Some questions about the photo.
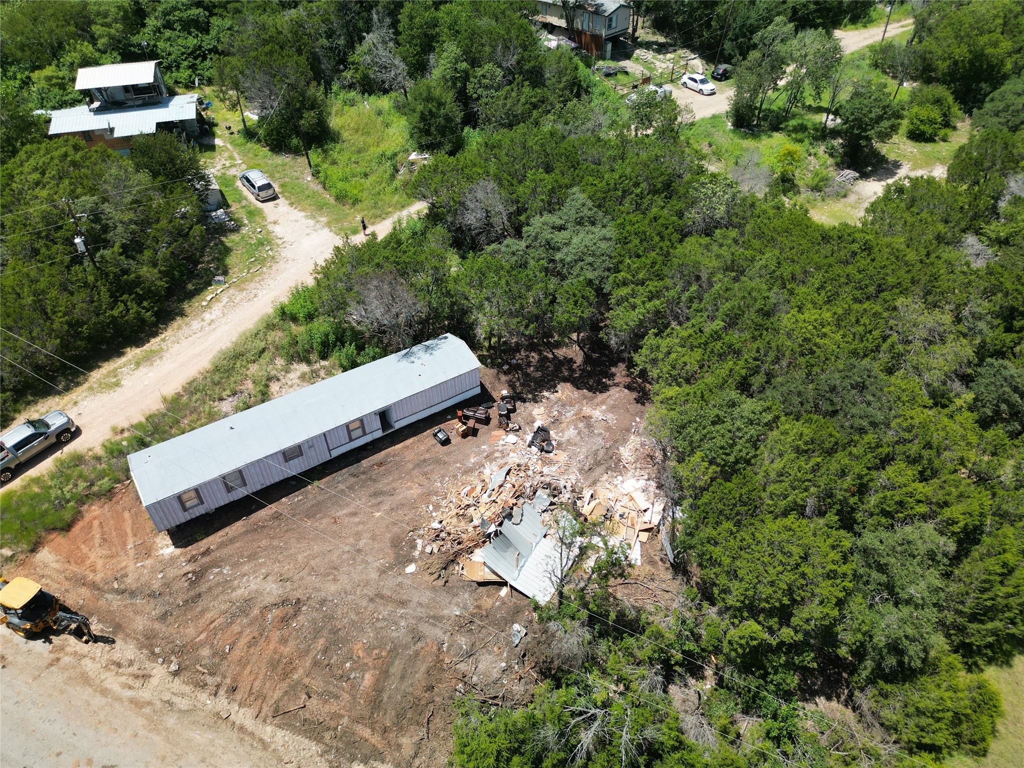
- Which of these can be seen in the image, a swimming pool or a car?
car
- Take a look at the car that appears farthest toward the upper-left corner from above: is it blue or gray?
gray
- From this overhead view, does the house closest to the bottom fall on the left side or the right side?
left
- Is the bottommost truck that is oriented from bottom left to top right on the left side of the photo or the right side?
left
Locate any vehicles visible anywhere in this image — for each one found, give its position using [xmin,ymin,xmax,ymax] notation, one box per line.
[0,575,99,650]
[239,173,279,201]
[712,65,731,81]
[682,78,716,96]
[0,413,80,484]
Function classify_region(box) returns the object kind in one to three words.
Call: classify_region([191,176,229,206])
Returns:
shed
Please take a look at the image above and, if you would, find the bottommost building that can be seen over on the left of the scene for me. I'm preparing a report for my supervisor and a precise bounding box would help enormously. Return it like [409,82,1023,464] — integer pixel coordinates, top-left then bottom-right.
[124,331,483,533]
